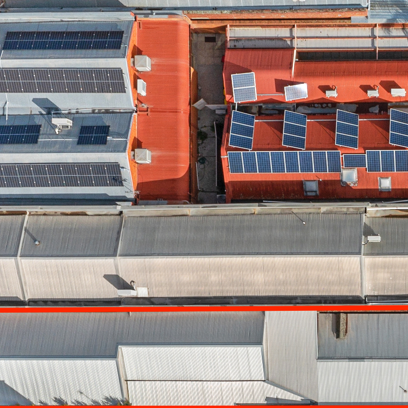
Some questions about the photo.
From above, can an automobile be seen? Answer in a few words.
No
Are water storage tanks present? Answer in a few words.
No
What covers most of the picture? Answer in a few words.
buildings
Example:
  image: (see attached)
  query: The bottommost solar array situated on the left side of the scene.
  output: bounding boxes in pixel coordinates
[0,164,123,188]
